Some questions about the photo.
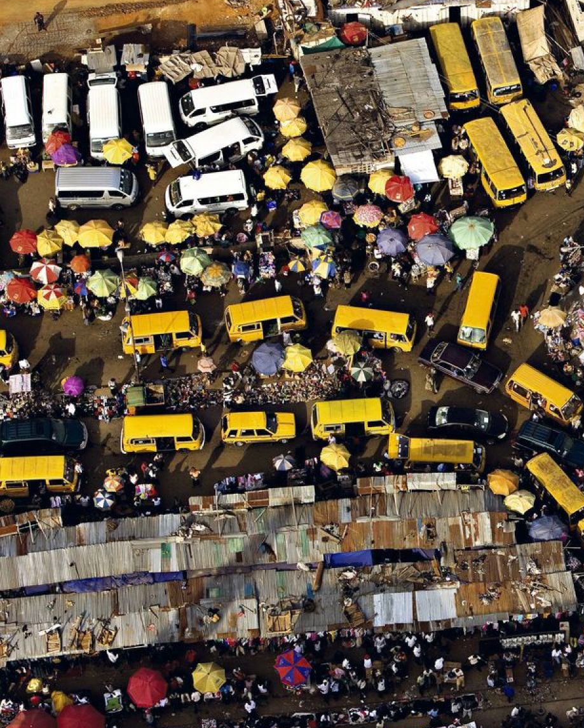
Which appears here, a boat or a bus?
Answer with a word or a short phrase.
bus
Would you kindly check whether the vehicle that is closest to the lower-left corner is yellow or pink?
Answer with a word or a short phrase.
yellow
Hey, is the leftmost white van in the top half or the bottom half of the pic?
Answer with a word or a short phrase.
top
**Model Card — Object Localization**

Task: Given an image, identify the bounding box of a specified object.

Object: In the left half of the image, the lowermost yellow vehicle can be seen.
[0,456,84,499]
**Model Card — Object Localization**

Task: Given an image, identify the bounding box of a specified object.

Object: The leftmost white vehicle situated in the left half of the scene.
[0,74,40,160]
